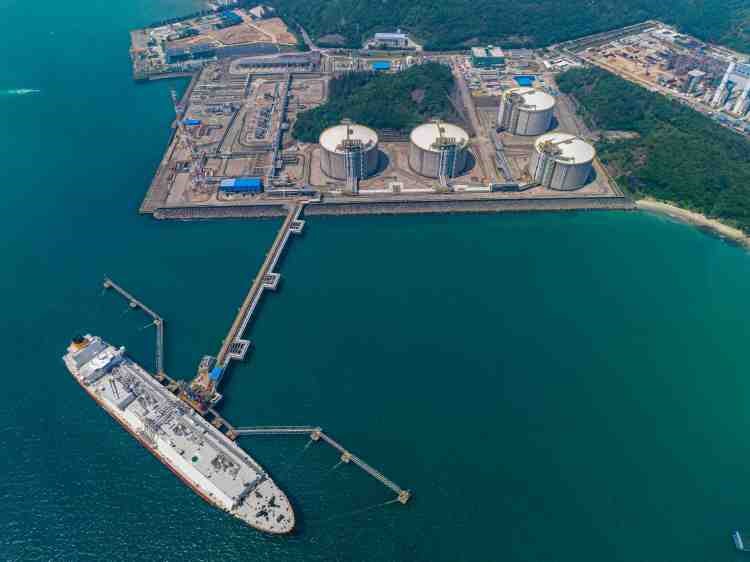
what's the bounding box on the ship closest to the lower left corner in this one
[62,338,289,527]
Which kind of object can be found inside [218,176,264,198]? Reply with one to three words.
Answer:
building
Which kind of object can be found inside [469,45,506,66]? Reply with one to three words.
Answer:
building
